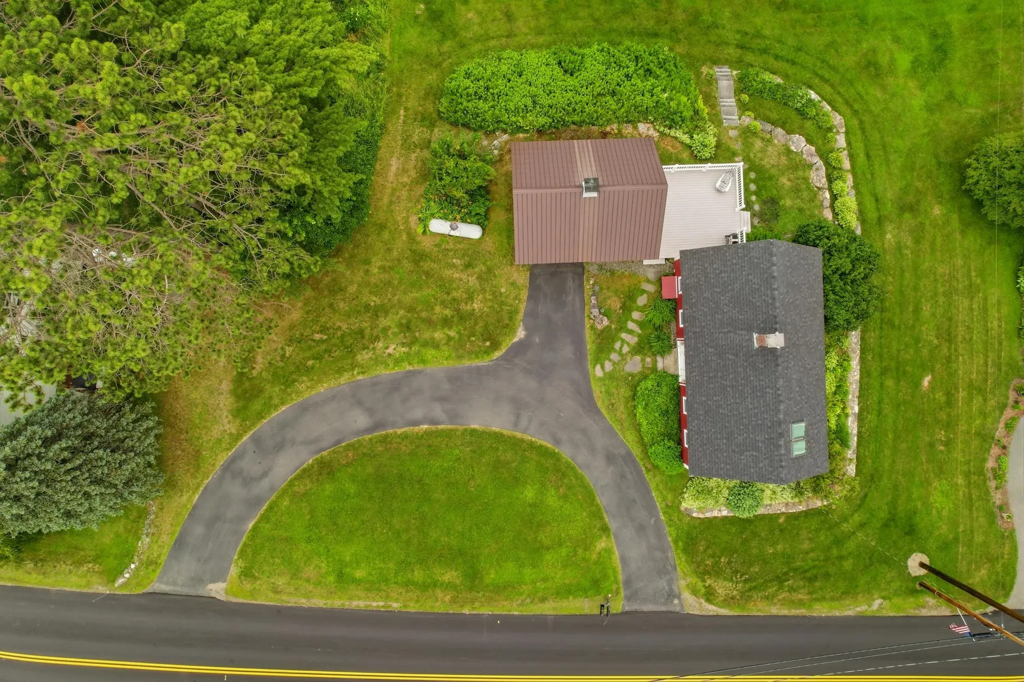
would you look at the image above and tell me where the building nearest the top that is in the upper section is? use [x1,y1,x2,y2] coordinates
[512,136,671,265]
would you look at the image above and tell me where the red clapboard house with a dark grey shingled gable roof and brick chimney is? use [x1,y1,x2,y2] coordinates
[673,239,828,485]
